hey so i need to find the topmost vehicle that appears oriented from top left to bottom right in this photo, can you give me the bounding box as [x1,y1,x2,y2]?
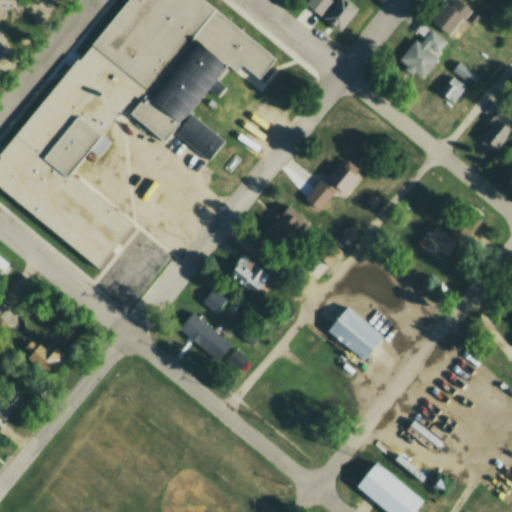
[312,28,328,42]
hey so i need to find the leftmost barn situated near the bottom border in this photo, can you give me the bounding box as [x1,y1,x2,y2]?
[358,464,426,512]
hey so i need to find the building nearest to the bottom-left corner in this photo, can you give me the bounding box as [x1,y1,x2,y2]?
[28,341,60,372]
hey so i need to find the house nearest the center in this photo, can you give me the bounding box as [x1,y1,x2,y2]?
[234,258,270,290]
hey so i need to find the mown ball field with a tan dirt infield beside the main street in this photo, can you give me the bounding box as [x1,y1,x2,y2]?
[12,367,290,512]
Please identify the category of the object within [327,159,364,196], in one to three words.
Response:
house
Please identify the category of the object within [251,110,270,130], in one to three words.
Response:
vehicle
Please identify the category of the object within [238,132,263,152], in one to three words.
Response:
bus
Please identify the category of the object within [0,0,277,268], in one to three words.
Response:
building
